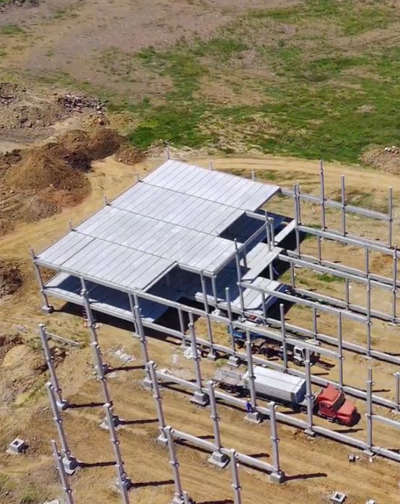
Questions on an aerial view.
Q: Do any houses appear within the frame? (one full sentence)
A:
No, I find no house anywhere in the image.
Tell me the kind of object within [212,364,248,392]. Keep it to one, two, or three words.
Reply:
trailer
